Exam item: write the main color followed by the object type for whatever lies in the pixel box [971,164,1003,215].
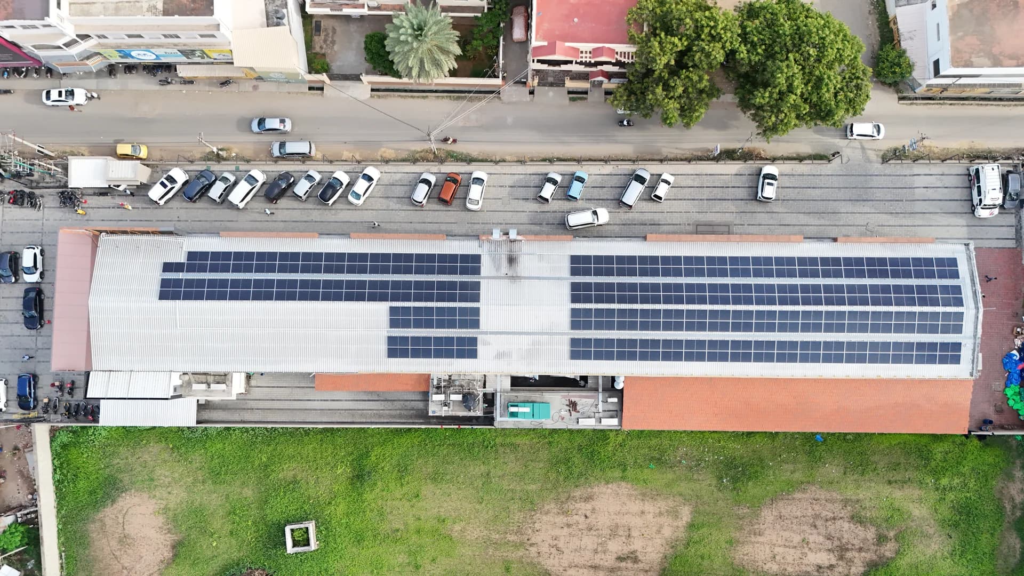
white van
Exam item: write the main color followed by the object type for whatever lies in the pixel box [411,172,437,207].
white car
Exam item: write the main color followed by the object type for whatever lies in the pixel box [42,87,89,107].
white car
